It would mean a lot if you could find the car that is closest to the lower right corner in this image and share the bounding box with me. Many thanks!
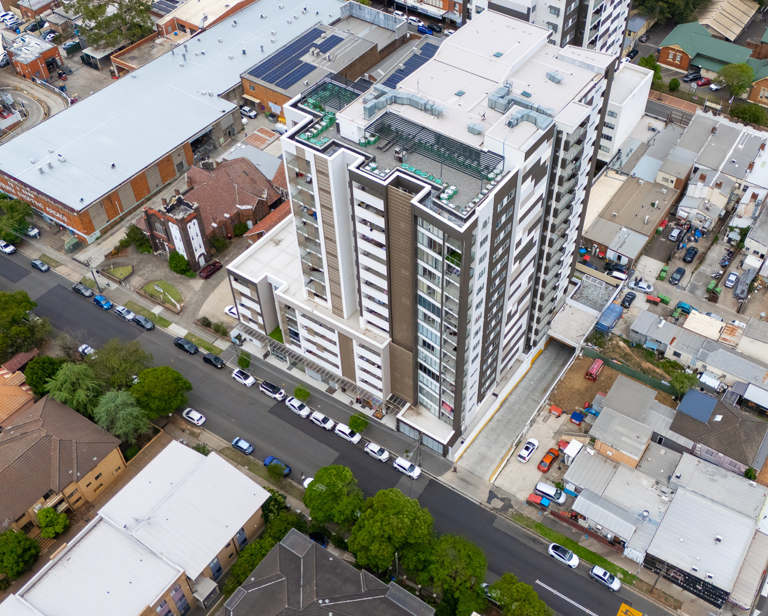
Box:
[585,564,623,594]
